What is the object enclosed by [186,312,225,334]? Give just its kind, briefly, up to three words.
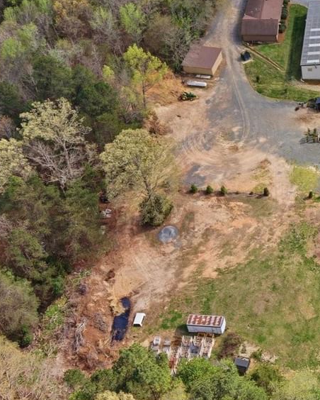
trailer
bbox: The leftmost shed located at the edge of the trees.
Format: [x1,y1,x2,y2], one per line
[179,41,225,75]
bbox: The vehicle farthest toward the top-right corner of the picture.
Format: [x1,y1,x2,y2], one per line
[174,91,193,103]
